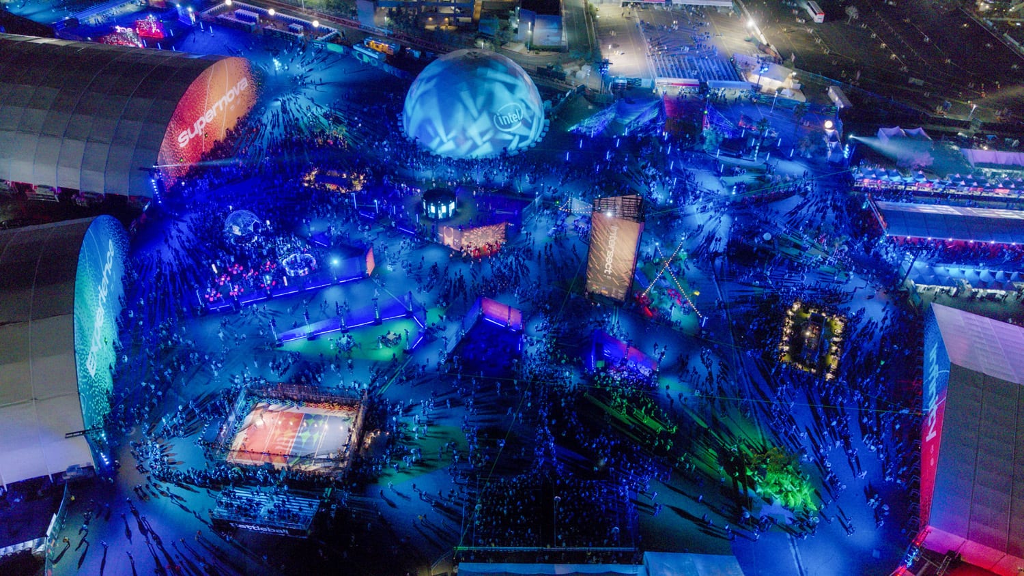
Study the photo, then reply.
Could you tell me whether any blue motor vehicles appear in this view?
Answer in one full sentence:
Yes, the image includes a blue motor vehicle.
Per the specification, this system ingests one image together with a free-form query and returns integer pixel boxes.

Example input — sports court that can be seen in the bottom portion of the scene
[208,378,375,483]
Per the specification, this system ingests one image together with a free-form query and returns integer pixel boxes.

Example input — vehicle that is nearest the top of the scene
[800,0,822,21]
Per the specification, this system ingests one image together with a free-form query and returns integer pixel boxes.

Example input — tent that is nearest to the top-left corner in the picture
[0,47,260,211]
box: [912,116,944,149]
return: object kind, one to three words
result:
tent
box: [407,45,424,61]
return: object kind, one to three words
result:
vehicle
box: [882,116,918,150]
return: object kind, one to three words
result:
tent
